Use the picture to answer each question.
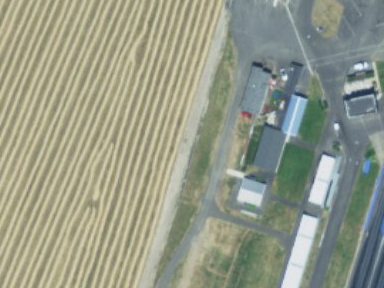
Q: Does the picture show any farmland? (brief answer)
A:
Yes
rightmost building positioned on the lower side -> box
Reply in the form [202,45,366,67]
[310,154,336,204]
